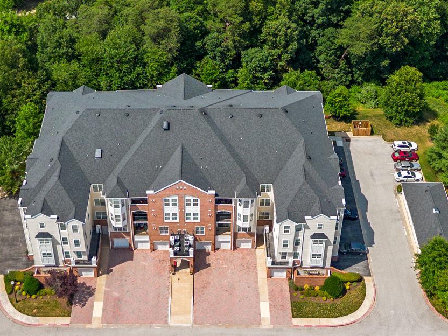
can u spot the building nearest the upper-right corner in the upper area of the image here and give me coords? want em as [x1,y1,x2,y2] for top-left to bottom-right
[350,116,373,135]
